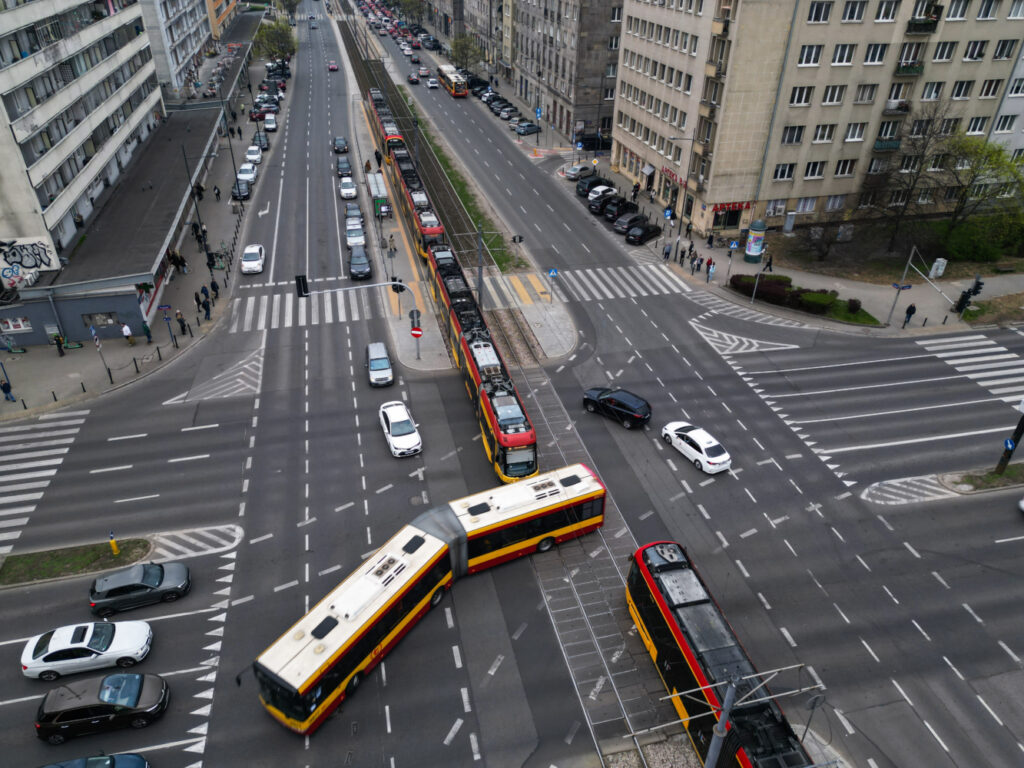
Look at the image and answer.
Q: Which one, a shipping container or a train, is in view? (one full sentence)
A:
This aerial view contains a train.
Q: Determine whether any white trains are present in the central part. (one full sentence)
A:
No, no white train appears in the central part.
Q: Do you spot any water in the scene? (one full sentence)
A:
No, water can't be seen anywhere here.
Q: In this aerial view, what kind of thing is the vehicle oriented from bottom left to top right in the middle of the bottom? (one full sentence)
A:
The vehicle oriented from bottom left to top right in the middle of the bottom is a bus.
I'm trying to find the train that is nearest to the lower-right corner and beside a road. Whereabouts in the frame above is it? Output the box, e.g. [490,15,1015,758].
[620,540,824,768]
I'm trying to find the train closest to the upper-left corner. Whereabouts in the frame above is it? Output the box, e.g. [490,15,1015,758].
[369,102,406,170]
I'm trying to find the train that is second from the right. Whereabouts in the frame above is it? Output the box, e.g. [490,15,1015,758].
[421,241,547,485]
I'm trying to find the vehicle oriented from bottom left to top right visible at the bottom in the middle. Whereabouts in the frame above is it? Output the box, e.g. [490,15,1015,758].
[226,461,609,743]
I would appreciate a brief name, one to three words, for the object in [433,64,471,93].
bus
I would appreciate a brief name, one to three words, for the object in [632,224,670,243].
car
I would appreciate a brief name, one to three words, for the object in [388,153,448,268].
train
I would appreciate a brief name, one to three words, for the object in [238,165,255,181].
car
